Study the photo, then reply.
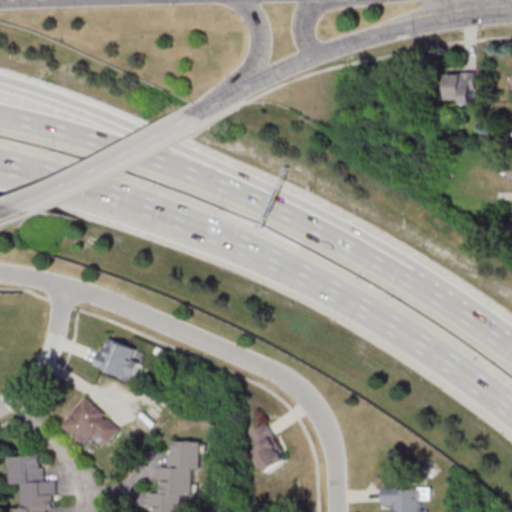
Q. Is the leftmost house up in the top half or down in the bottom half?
bottom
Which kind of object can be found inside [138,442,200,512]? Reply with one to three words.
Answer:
house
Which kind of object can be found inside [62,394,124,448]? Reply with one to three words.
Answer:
house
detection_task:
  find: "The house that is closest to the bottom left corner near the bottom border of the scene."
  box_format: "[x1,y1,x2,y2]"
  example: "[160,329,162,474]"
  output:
[6,458,56,512]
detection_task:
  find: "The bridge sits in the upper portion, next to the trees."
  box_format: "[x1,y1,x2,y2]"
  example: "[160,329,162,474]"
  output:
[0,104,202,226]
